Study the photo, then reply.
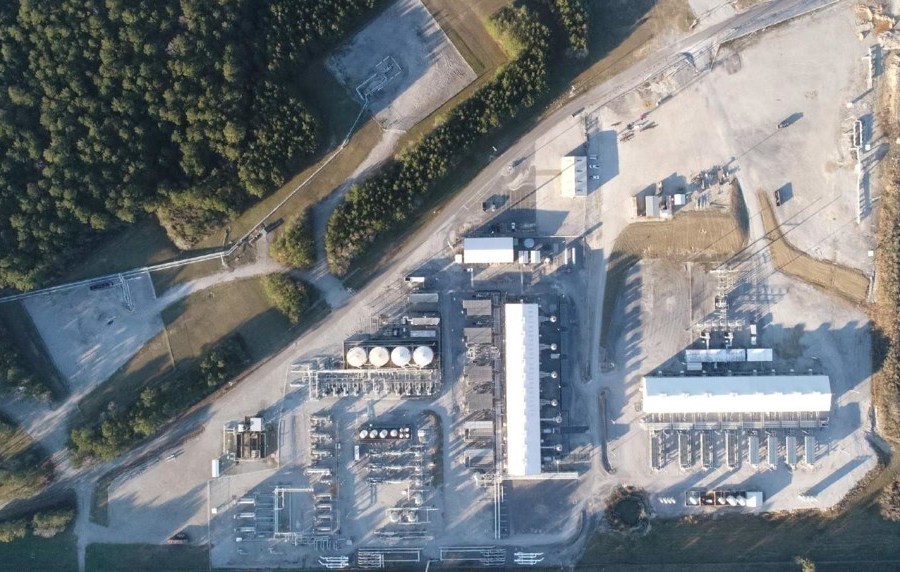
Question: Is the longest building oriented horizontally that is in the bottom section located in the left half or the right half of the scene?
right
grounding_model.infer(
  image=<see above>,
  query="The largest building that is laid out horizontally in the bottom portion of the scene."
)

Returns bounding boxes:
[640,373,833,412]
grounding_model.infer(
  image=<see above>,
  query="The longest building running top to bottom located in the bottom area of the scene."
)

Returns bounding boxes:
[504,303,542,476]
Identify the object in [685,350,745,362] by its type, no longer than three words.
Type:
building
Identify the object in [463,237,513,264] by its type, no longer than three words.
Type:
building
